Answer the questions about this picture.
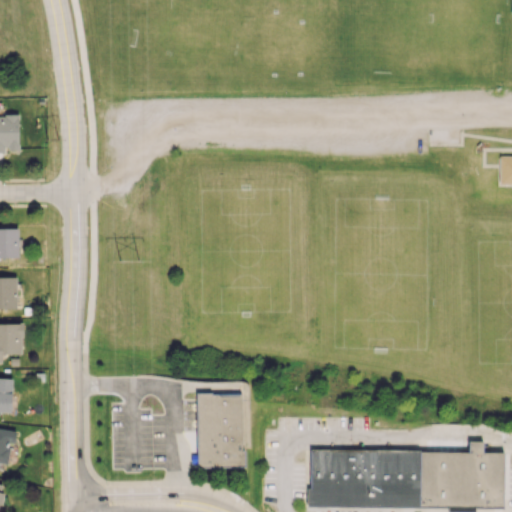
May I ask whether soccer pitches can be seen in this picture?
Yes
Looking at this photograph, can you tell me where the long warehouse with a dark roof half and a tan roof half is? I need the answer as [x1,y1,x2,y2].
[307,442,506,512]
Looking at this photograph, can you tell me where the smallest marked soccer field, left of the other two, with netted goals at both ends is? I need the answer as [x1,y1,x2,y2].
[201,188,292,314]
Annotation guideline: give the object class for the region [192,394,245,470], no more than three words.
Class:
building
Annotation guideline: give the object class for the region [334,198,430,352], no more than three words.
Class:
soccer field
